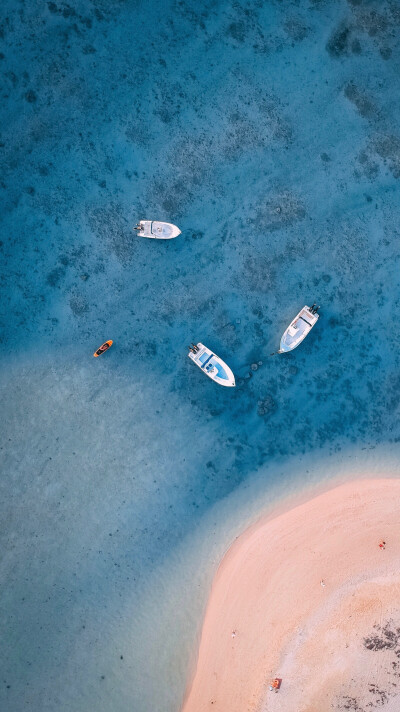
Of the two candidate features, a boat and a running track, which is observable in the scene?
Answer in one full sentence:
I can see a boat in this picture.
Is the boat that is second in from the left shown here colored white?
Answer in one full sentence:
Yes, the boat that is second in from the left is white.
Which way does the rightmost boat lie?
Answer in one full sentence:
In this picture, the rightmost boat lies diagonally.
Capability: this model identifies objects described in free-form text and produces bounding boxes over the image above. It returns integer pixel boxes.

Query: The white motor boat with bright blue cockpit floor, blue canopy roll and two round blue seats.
[186,341,237,387]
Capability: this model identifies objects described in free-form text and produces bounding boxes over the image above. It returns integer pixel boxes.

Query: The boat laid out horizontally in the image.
[131,219,182,240]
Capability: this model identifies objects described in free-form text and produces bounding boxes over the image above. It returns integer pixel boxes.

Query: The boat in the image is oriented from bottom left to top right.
[278,302,321,354]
